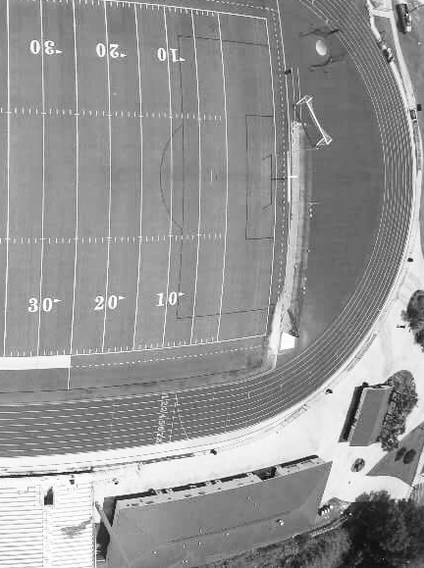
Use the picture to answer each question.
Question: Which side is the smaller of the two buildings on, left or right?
right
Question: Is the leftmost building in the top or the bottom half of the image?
bottom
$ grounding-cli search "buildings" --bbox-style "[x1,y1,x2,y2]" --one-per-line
[102,454,333,568]
[332,383,393,448]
